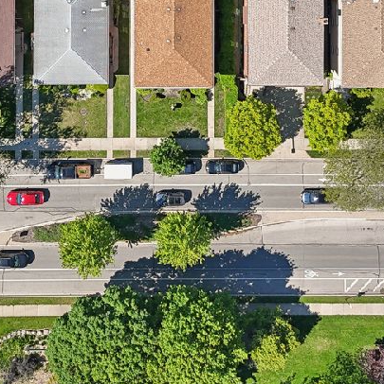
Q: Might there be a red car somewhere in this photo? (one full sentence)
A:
Yes, this view includes a red car.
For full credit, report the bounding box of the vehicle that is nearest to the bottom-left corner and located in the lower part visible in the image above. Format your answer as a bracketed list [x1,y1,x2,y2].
[0,250,30,269]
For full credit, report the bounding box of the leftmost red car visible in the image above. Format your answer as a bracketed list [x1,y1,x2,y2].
[9,190,44,206]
